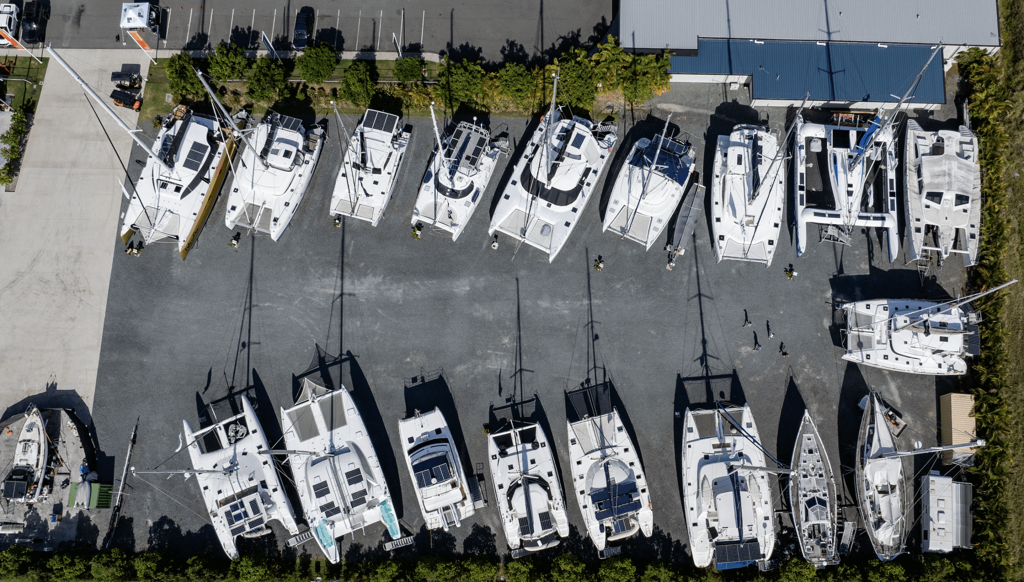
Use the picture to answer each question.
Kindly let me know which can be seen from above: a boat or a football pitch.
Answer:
boat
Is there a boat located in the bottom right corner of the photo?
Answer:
Yes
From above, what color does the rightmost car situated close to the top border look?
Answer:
black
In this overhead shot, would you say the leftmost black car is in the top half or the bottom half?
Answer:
top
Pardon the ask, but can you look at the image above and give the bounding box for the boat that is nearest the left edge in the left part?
[4,405,65,502]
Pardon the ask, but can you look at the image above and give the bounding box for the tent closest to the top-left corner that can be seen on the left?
[120,2,157,38]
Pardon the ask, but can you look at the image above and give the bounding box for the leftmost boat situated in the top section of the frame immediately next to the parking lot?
[46,45,245,260]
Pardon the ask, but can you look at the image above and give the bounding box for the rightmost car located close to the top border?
[291,7,315,52]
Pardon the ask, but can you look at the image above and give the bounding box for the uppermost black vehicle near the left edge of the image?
[19,0,49,46]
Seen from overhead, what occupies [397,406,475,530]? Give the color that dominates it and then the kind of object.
white boat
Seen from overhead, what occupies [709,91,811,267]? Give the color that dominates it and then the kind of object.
white boat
